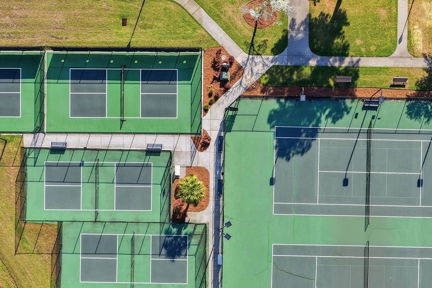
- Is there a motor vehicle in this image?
No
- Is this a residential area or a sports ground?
sports ground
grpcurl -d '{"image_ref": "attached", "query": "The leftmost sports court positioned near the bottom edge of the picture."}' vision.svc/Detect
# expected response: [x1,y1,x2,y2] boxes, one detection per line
[60,222,208,288]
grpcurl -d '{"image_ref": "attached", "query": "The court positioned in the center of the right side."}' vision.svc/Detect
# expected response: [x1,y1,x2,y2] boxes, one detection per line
[221,100,432,229]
